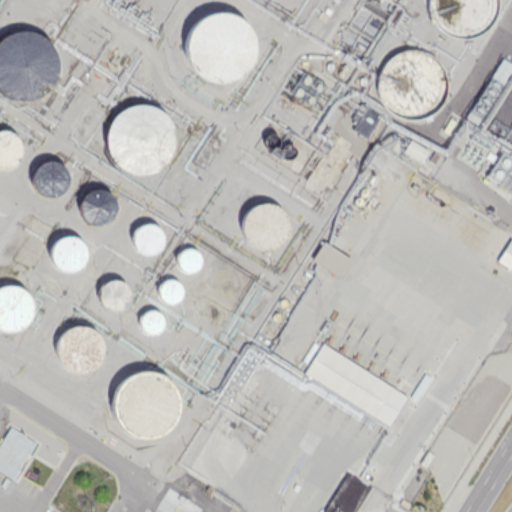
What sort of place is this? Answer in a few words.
industrial area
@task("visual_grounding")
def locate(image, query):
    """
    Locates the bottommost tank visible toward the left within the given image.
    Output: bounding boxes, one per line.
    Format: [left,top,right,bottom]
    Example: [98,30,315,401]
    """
[111,370,182,441]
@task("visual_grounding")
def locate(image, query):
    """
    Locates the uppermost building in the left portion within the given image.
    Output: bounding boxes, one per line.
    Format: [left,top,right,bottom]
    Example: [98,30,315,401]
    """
[0,427,38,484]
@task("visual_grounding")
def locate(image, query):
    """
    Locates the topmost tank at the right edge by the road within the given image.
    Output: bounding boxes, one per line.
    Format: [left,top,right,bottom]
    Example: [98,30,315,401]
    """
[424,0,500,40]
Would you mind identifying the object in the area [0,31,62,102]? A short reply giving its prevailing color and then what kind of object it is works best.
gray storage tank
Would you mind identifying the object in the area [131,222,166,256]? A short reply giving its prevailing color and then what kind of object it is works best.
white storage tank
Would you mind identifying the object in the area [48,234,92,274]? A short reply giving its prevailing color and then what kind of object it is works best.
white storage tank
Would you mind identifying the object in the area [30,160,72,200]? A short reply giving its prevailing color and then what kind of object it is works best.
gray storage tank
